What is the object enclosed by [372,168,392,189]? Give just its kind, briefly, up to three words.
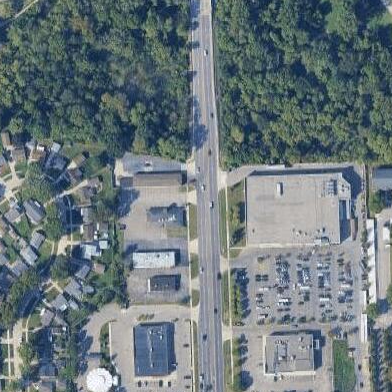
building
